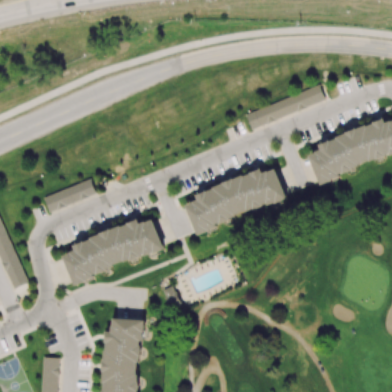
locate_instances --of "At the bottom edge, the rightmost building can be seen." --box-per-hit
[99,318,142,392]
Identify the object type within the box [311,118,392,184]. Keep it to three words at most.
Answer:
building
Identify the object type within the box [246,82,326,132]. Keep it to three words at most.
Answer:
building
